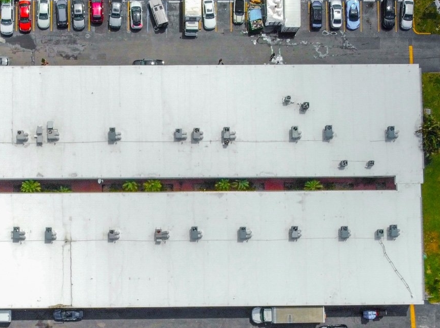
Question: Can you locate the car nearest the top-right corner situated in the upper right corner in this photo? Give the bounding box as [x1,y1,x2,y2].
[398,0,415,31]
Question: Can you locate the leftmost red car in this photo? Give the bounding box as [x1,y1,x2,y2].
[16,0,32,34]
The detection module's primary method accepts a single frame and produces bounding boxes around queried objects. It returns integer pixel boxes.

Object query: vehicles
[379,0,397,31]
[309,1,322,31]
[248,306,325,325]
[89,0,105,25]
[129,2,143,31]
[328,0,344,30]
[72,0,86,32]
[36,0,51,31]
[344,0,361,31]
[53,309,84,322]
[54,0,69,29]
[398,0,415,31]
[202,0,216,31]
[182,0,202,41]
[149,0,169,30]
[0,55,10,67]
[0,0,15,37]
[133,58,164,66]
[109,0,122,31]
[16,0,32,34]
[0,310,13,324]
